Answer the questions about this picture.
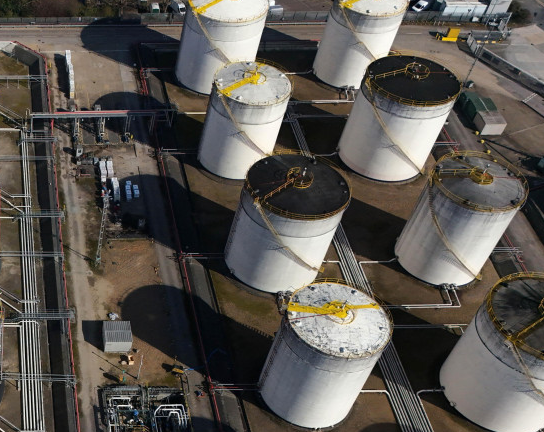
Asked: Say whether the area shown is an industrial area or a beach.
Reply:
industrial area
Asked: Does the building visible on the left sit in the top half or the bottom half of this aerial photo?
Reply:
bottom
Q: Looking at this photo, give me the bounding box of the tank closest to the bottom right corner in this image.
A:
[420,271,544,432]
